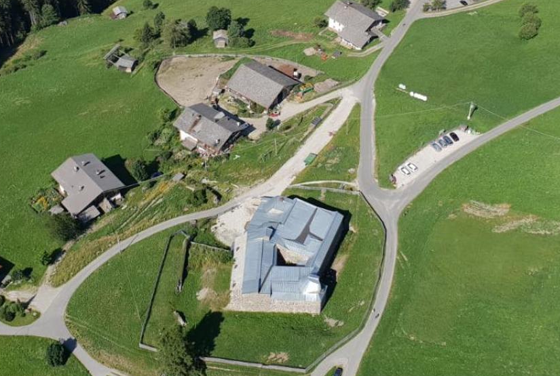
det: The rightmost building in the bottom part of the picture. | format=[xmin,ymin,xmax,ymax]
[242,195,344,311]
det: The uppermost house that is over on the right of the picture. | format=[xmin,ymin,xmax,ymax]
[322,0,392,44]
